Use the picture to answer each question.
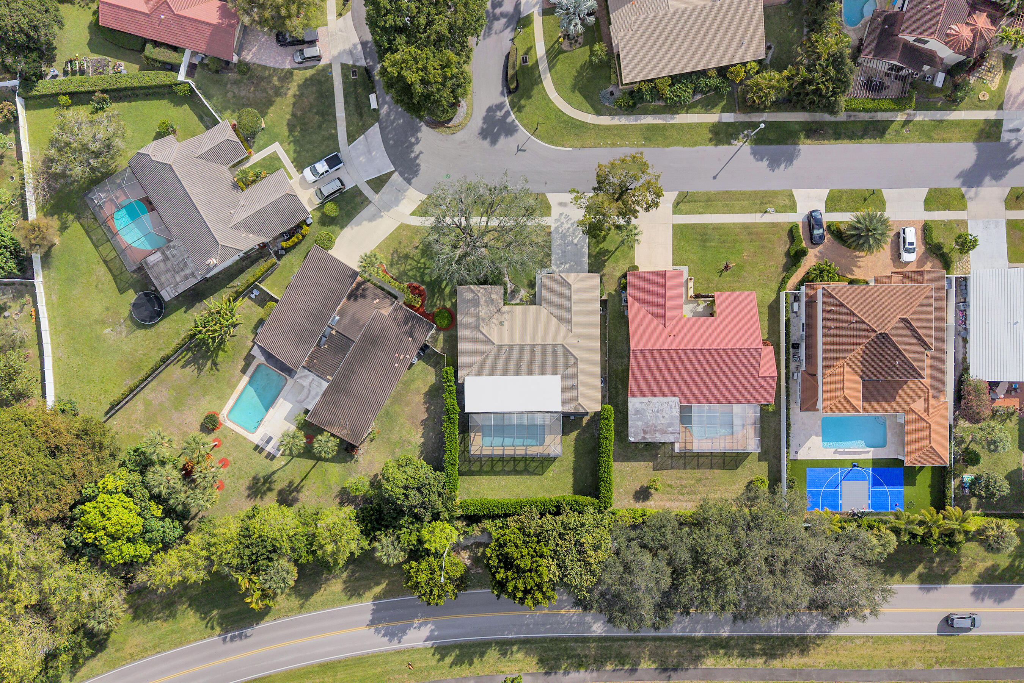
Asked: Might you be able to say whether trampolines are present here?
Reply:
Yes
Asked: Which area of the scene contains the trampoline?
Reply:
left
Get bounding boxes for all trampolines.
[125,290,166,324]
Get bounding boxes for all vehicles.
[896,226,916,262]
[806,210,825,245]
[944,612,980,630]
[311,177,347,204]
[276,30,319,48]
[301,151,346,181]
[292,47,324,65]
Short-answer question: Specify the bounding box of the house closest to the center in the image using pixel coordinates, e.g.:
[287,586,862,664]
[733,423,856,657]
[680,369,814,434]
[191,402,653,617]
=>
[457,273,601,412]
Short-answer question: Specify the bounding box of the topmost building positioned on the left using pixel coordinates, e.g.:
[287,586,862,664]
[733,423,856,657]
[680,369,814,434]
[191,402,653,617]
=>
[98,0,250,64]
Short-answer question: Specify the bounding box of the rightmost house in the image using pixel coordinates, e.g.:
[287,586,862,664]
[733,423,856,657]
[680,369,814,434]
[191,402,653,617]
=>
[959,269,1024,381]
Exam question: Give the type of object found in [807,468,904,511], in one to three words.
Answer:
sports court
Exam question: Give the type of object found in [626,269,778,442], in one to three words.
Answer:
house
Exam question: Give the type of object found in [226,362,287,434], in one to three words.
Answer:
swimming pool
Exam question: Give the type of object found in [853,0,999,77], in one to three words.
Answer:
house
